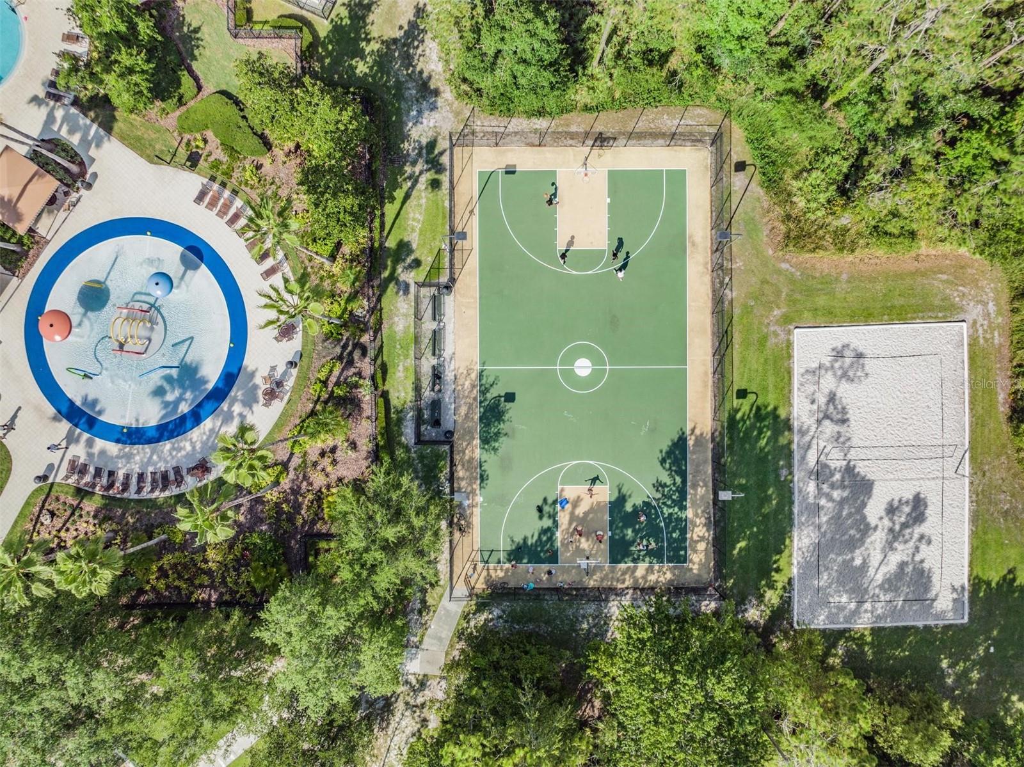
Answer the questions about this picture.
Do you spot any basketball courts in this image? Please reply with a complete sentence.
Yes, there's a basketball court here.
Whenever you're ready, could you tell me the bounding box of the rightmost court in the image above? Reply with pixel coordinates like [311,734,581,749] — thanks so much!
[795,322,970,627]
